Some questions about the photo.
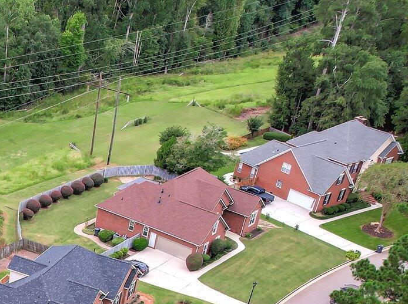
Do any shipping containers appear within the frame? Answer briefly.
No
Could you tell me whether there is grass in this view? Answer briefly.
Yes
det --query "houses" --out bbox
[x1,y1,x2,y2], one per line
[236,115,408,211]
[0,245,148,304]
[93,163,266,258]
